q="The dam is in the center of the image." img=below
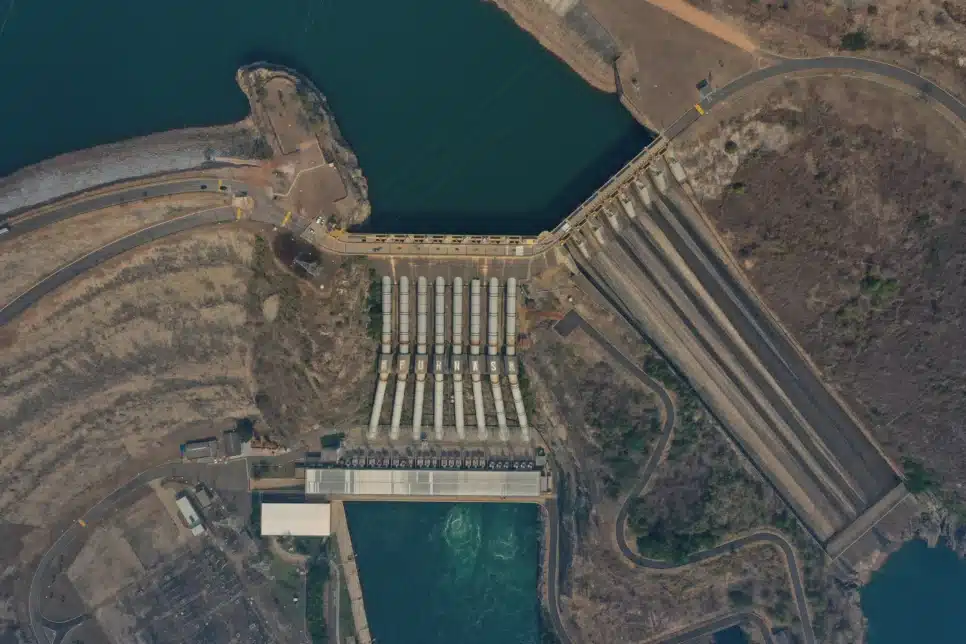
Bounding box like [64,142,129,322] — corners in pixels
[295,222,571,288]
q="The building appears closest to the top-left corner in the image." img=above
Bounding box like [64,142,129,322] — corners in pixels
[232,195,254,211]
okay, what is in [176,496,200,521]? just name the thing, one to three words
building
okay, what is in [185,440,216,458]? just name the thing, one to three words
building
